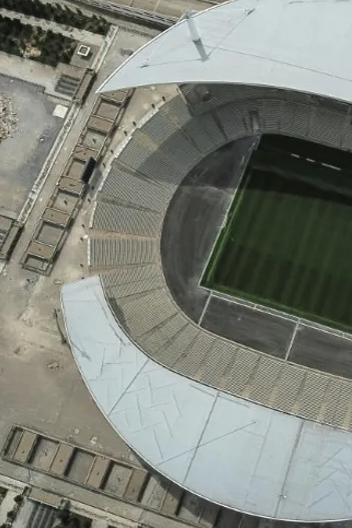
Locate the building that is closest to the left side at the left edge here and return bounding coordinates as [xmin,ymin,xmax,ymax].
[0,219,24,259]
